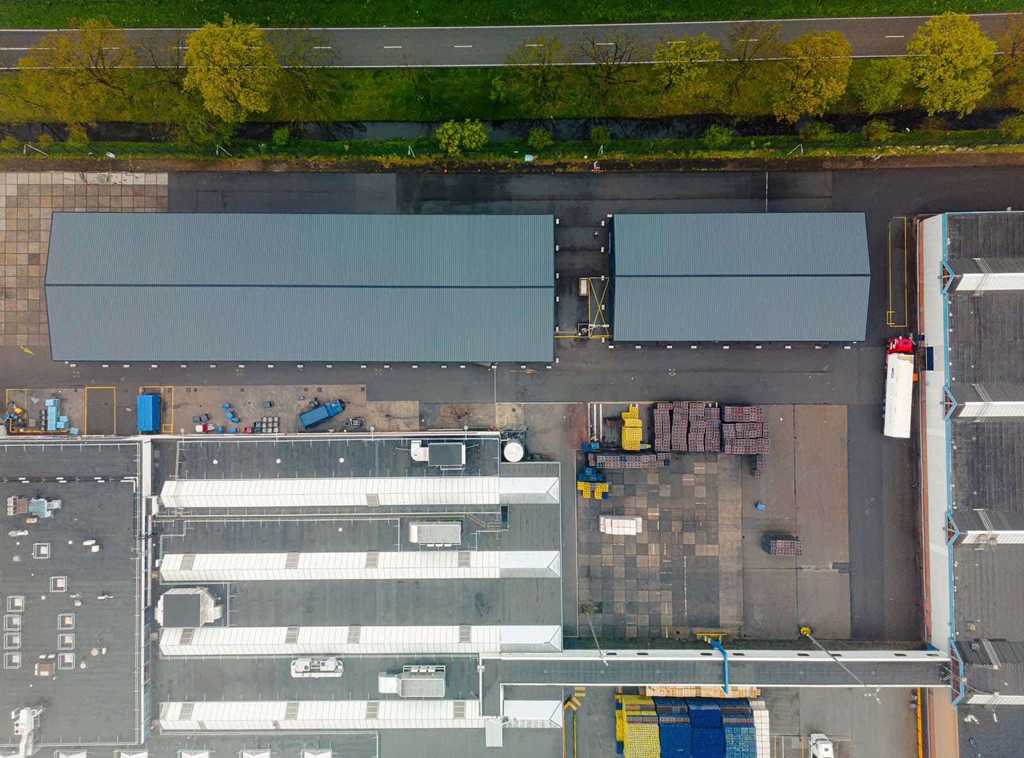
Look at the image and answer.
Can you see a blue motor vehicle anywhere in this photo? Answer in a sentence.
Yes, this view includes a blue motor vehicle.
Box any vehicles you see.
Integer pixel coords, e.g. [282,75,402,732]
[298,400,342,427]
[807,725,832,758]
[342,417,367,427]
[881,337,912,438]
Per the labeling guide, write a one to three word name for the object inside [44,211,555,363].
shed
